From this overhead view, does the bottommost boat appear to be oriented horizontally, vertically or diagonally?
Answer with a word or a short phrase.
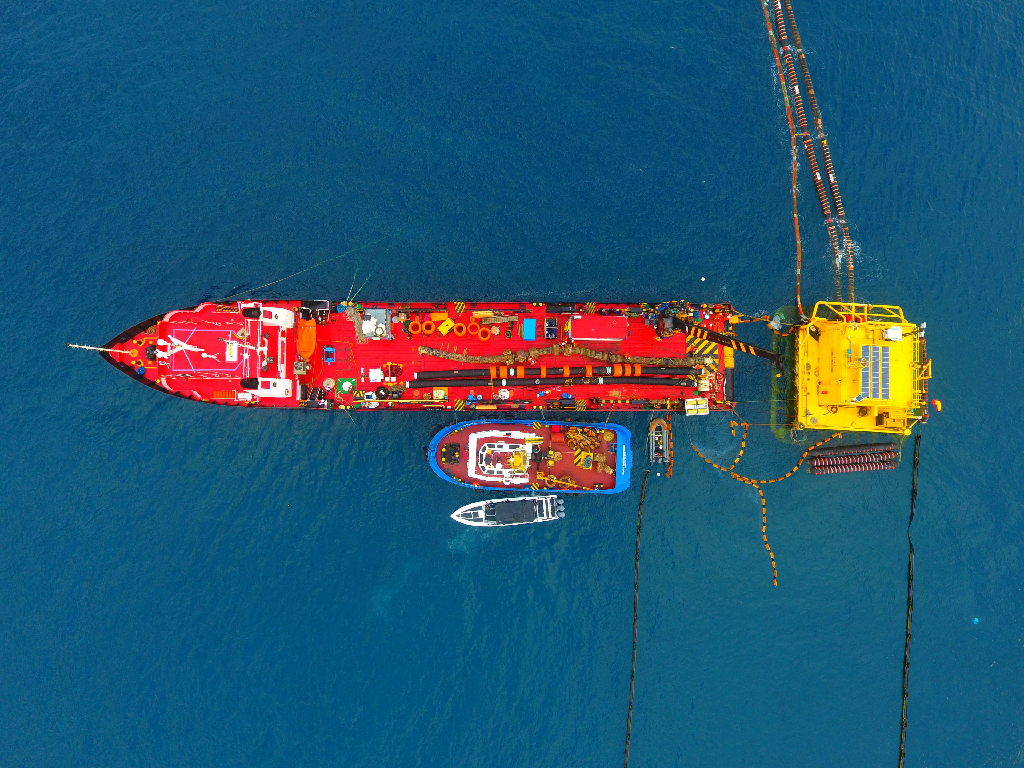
horizontally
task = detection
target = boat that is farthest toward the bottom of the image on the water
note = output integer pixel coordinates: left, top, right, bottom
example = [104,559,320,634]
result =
[451,495,565,526]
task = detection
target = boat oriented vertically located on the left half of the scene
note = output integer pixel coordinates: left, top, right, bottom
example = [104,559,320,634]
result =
[298,319,316,358]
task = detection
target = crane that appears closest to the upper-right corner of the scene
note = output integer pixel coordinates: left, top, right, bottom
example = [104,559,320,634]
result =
[653,299,784,379]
